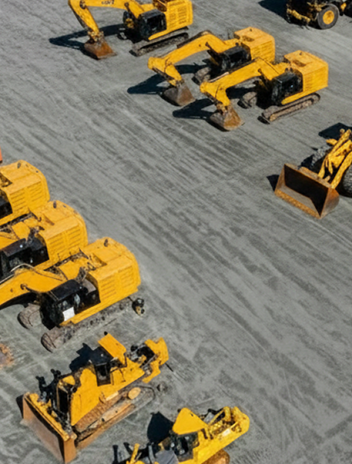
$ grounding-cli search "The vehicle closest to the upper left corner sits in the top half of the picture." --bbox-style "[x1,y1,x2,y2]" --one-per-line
[68,0,195,63]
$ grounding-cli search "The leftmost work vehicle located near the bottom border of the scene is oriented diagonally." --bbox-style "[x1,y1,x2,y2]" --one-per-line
[19,322,177,464]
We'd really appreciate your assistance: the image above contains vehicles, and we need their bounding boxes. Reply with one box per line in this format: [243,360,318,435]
[19,322,177,464]
[195,49,325,135]
[0,162,47,233]
[0,239,139,370]
[275,126,352,222]
[286,0,352,29]
[68,0,195,63]
[129,386,254,464]
[148,26,273,104]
